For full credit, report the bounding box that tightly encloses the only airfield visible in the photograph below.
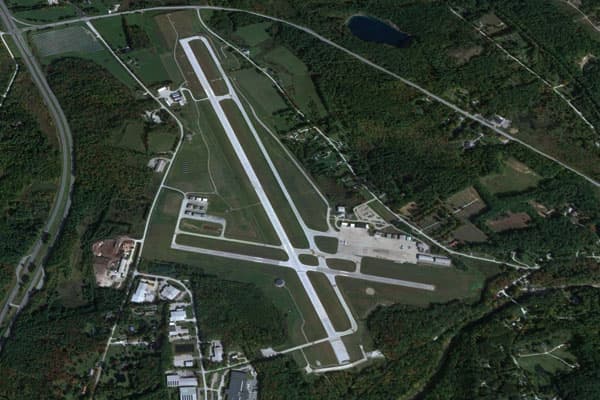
[141,14,500,374]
